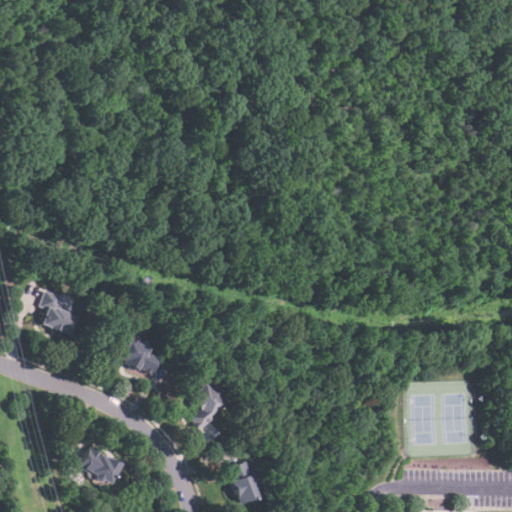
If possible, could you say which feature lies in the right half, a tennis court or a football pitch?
tennis court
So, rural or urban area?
rural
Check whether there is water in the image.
No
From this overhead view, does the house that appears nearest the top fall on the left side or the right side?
left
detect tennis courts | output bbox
[402,382,441,456]
[438,380,478,454]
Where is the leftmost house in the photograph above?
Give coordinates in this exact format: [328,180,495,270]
[36,288,76,333]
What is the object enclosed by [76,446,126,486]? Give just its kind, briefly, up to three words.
house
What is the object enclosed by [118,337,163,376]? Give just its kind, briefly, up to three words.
house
